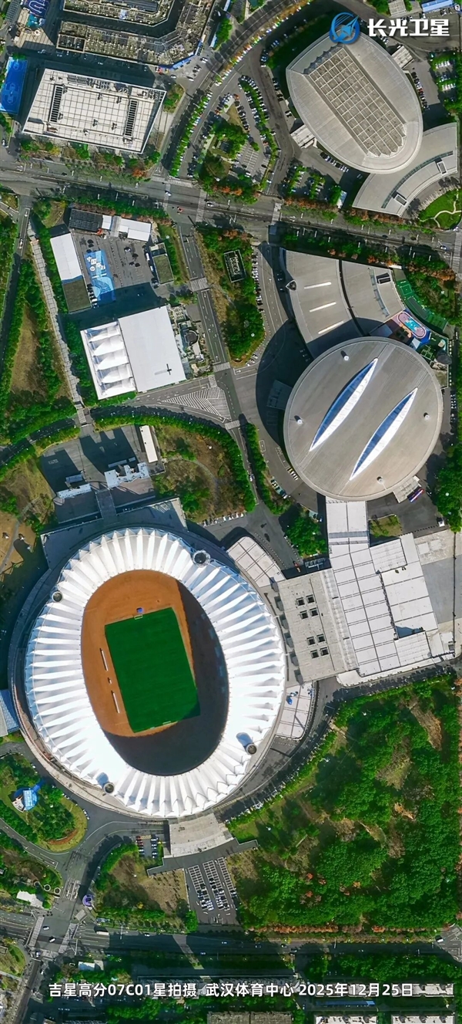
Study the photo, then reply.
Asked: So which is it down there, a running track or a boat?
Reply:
running track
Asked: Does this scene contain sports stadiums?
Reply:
Yes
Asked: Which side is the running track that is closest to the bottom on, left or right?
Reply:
left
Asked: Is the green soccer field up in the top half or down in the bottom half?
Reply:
bottom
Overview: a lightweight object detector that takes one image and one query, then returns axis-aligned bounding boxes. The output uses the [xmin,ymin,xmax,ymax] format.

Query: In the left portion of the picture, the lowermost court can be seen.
[84,251,115,305]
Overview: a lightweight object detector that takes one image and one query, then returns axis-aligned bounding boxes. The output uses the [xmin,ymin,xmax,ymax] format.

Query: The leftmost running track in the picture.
[82,572,226,774]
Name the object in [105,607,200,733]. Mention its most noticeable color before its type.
green soccer field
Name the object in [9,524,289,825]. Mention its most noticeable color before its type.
white stadium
